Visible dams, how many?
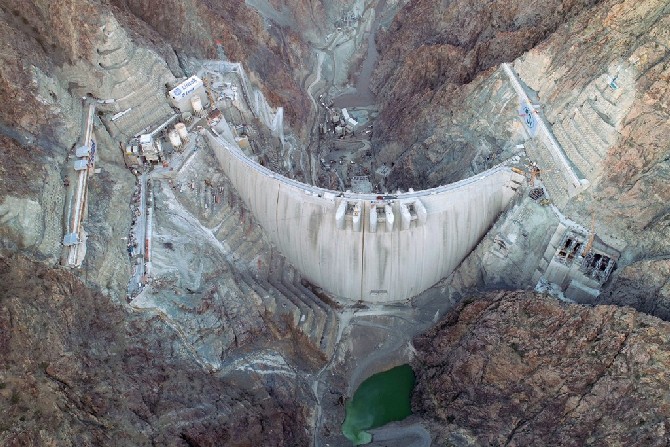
1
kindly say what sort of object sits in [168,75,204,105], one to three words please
building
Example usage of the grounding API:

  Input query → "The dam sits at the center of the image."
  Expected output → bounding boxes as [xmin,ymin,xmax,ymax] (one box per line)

[208,117,527,303]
